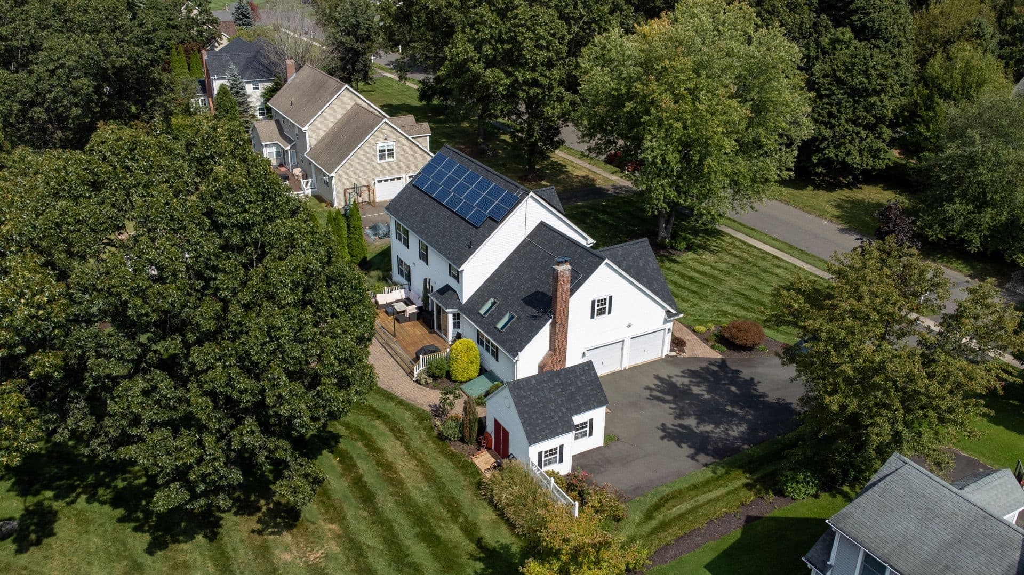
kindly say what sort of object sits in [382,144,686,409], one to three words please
house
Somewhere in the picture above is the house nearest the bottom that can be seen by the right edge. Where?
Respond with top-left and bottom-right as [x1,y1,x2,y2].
[796,449,1024,575]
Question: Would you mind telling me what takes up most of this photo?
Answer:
trees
